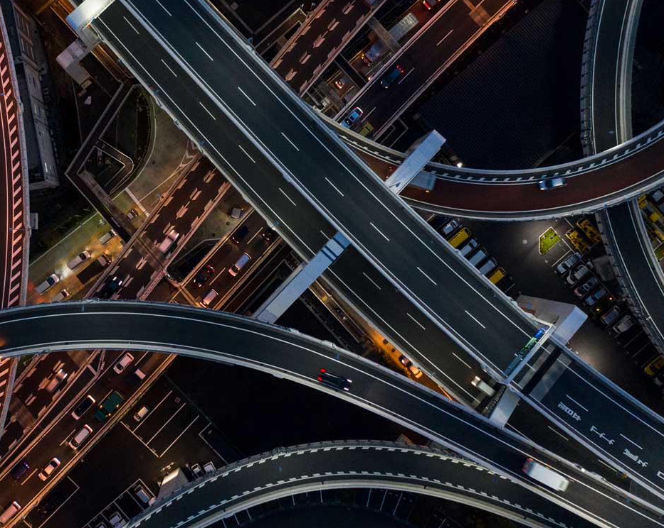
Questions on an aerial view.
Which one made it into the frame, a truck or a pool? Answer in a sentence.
Visible in the photo is a truck.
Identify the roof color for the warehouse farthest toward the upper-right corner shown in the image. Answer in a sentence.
The roof of the warehouse farthest toward the upper-right corner is black.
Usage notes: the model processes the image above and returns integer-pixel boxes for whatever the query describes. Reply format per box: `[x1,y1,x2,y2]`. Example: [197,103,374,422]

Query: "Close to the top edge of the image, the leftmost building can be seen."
[0,0,56,191]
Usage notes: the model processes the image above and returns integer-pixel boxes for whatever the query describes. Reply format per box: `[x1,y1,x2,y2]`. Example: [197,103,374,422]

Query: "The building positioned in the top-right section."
[408,0,589,168]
